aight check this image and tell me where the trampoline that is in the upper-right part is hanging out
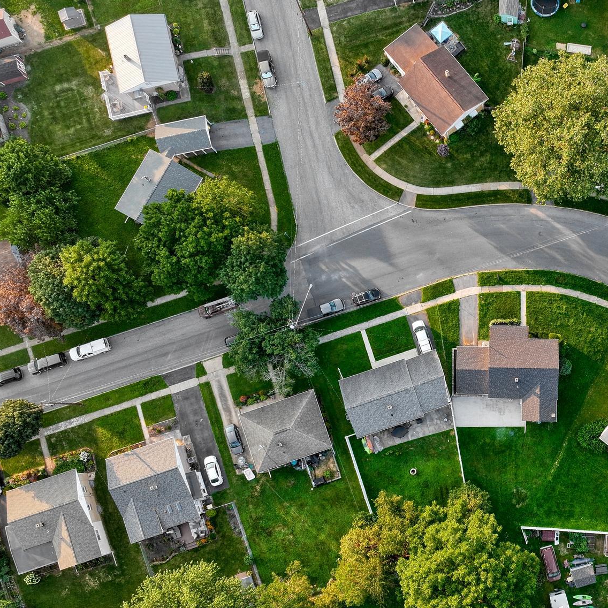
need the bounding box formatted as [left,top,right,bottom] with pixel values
[530,0,560,18]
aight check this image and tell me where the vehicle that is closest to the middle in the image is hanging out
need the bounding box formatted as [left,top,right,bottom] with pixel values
[305,298,345,320]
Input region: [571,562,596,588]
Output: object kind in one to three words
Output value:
shed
